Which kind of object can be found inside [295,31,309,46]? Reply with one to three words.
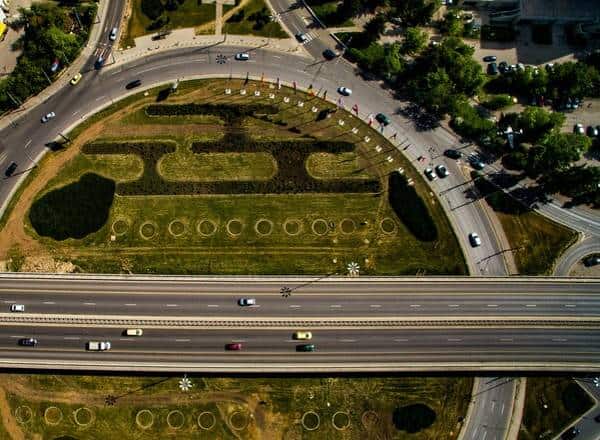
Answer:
car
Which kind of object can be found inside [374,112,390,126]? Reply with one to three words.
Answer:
vehicle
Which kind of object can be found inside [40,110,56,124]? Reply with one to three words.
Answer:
vehicle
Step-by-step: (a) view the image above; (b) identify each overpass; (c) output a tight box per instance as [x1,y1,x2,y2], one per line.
[0,273,600,373]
